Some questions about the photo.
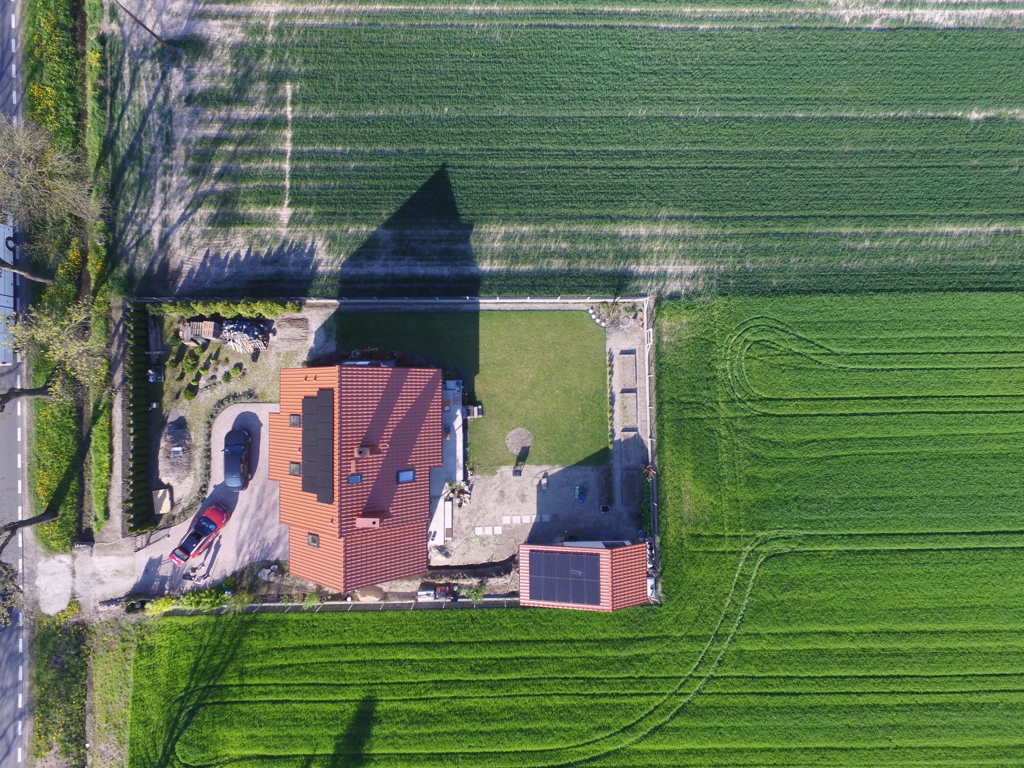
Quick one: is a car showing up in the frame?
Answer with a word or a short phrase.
Yes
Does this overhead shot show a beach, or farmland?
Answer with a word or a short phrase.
farmland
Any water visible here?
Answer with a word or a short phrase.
No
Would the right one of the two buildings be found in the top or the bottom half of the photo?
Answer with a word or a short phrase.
bottom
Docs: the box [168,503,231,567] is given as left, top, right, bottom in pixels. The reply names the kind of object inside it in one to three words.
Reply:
car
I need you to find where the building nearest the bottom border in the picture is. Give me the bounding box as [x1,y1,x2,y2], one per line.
[518,538,649,613]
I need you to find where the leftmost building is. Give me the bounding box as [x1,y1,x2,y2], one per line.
[267,365,445,595]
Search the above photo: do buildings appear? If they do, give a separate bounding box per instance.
[267,365,445,595]
[518,538,649,613]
